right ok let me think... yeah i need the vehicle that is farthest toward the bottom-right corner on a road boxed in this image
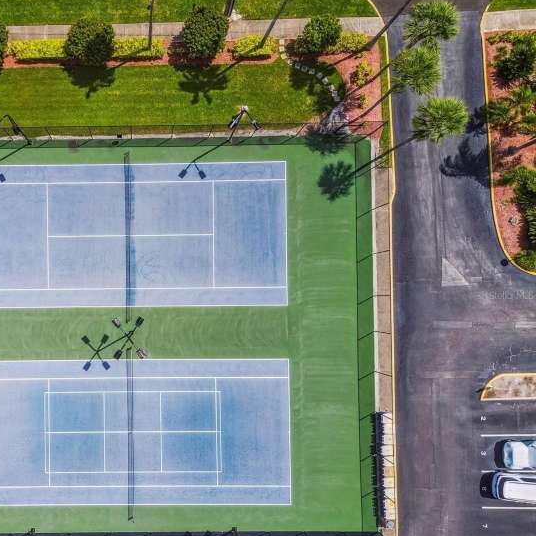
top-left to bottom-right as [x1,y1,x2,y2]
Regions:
[488,470,536,502]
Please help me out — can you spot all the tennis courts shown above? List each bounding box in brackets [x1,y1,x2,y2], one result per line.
[0,359,291,506]
[0,160,288,308]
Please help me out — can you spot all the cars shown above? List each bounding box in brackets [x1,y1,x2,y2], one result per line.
[500,439,536,471]
[488,470,536,502]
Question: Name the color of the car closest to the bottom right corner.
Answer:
white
